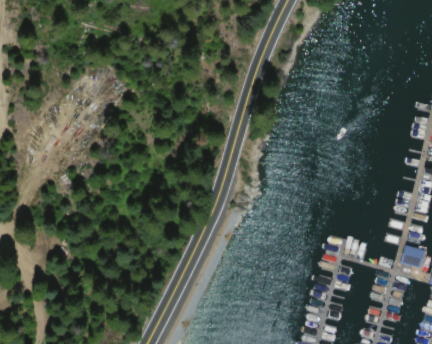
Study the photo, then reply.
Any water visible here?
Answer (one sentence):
Yes, there's water in this view.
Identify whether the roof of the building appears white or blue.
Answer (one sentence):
From above, the roof of the building appears blue.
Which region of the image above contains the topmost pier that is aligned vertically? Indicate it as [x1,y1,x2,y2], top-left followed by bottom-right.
[385,108,432,265]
